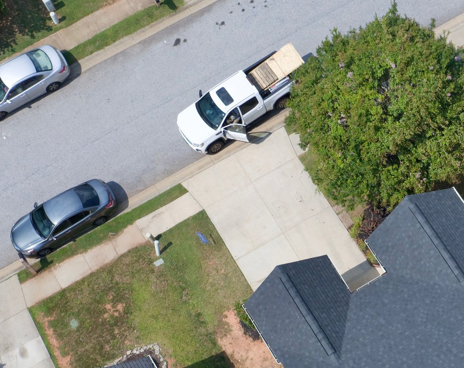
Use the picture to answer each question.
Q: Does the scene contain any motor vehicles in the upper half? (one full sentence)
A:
Yes, in the upper half there is a motor vehicle.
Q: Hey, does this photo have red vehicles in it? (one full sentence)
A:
No, the picture doesn't show any red vehicle.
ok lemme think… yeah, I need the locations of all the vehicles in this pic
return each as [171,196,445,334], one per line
[0,38,73,121]
[174,46,305,154]
[6,168,121,259]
